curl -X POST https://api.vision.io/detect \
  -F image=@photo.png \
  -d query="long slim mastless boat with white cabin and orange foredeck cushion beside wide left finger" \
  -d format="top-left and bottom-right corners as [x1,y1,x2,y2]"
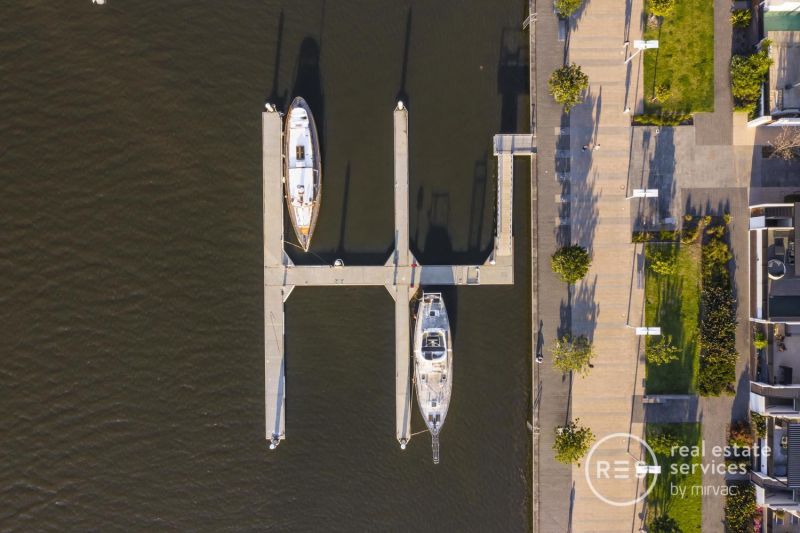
[283,95,322,250]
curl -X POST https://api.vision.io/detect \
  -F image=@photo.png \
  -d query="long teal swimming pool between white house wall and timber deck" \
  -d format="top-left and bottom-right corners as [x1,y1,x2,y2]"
[764,11,800,32]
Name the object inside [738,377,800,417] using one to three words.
building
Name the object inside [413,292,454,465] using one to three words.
boat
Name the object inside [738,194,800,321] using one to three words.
house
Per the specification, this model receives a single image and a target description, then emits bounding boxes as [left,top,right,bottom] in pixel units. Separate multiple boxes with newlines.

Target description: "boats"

[413,292,454,465]
[283,95,322,250]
